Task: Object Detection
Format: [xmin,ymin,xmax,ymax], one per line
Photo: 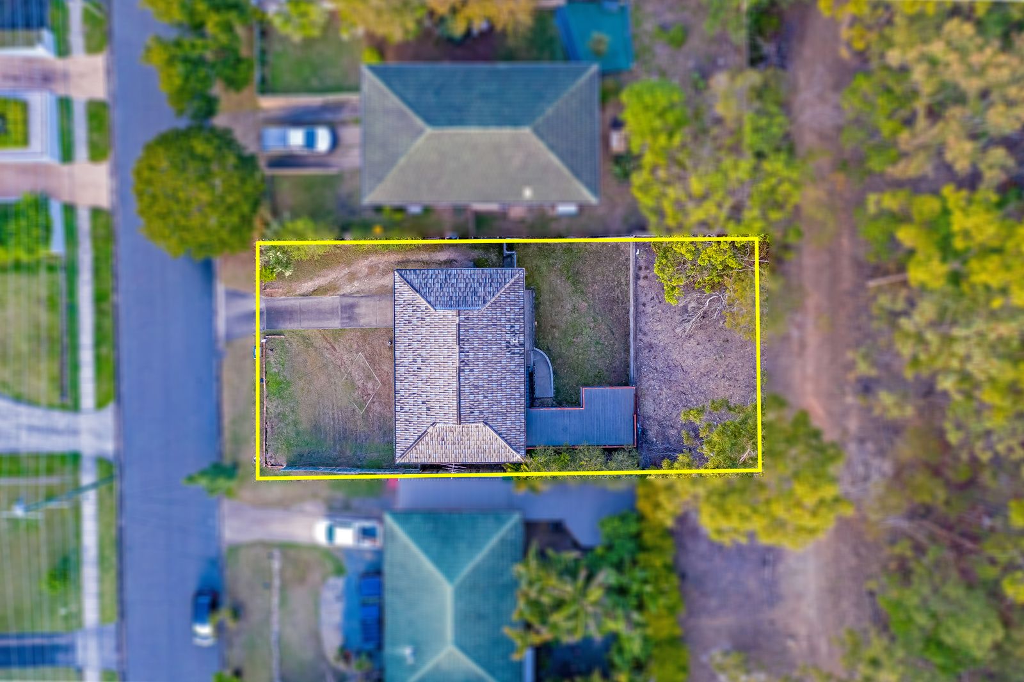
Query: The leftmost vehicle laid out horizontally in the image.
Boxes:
[260,122,334,155]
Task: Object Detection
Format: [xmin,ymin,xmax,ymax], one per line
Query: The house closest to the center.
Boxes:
[393,267,526,464]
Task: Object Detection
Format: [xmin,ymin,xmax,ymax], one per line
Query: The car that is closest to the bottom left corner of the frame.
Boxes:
[190,585,223,644]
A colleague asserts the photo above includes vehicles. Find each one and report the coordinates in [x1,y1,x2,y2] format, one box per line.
[316,517,382,551]
[354,570,382,644]
[190,585,223,644]
[260,122,334,155]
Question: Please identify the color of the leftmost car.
blue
